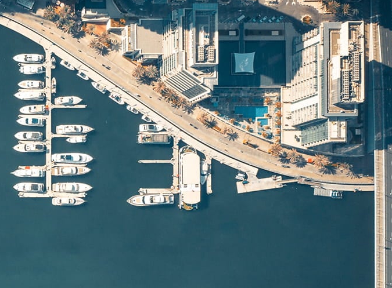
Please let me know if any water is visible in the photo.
Yes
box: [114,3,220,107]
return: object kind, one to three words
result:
building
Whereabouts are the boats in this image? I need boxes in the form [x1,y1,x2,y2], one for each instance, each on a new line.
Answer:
[13,183,46,192]
[19,65,45,74]
[125,103,139,113]
[12,168,46,177]
[233,173,245,180]
[14,91,46,99]
[136,124,164,132]
[19,80,46,89]
[16,117,46,126]
[13,53,46,63]
[140,113,151,122]
[53,125,95,134]
[51,153,95,163]
[137,134,171,143]
[127,195,175,206]
[52,96,83,104]
[75,71,89,80]
[108,91,123,104]
[66,137,88,143]
[59,59,75,70]
[177,148,200,211]
[14,132,44,140]
[20,105,46,114]
[50,197,86,205]
[13,143,46,152]
[51,166,91,175]
[51,183,93,192]
[93,83,108,96]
